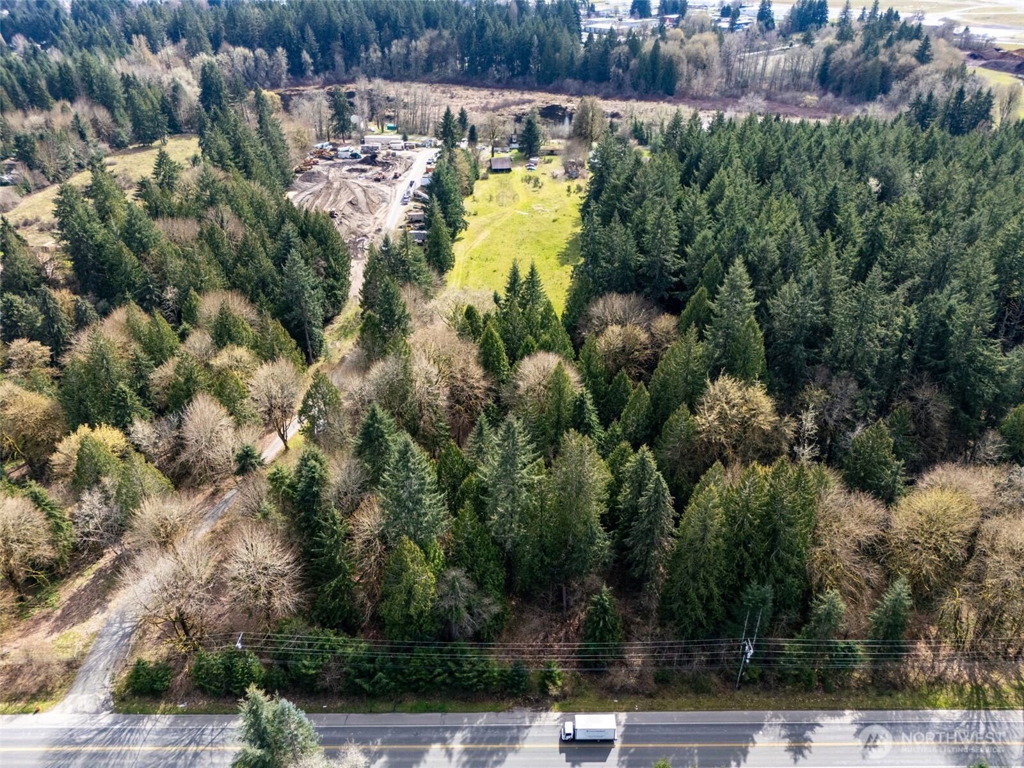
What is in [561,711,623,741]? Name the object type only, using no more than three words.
truck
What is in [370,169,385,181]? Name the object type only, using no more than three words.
vehicle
